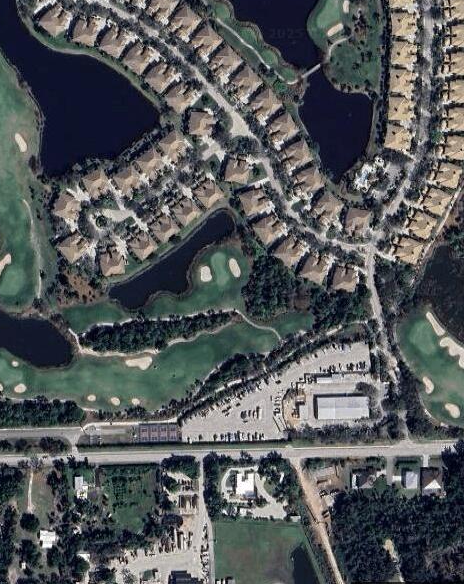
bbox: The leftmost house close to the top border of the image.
[38,4,72,35]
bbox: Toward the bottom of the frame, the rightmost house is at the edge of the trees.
[422,467,443,494]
